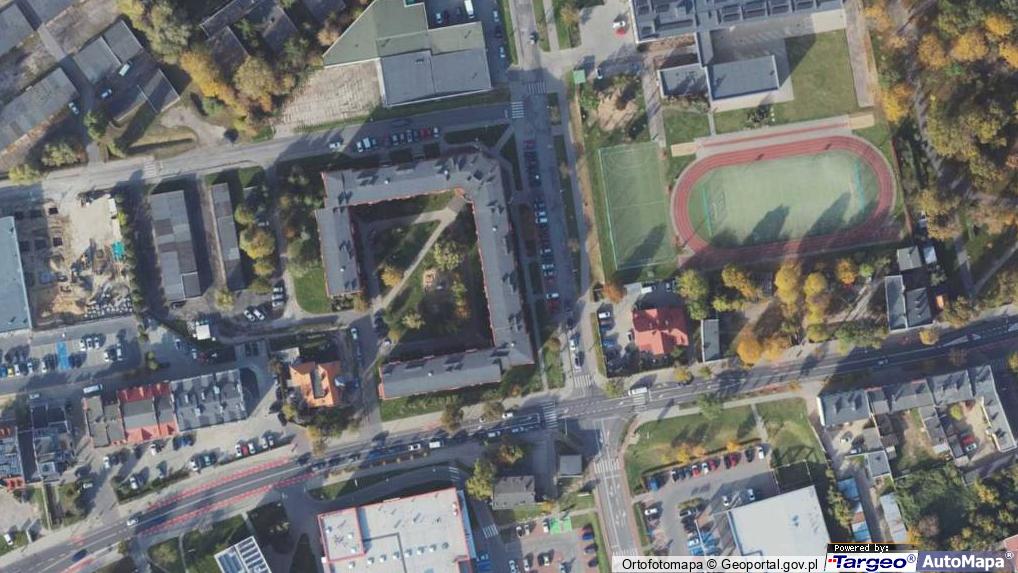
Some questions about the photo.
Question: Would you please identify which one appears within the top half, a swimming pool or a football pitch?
football pitch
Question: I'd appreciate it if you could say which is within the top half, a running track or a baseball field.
running track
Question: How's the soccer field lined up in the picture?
horizontally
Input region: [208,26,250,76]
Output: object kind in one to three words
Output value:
building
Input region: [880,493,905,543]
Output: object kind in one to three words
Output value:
shed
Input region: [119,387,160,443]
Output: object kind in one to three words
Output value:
house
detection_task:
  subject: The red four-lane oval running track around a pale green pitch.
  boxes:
[672,113,895,272]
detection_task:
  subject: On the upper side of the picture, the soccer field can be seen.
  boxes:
[688,152,879,249]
